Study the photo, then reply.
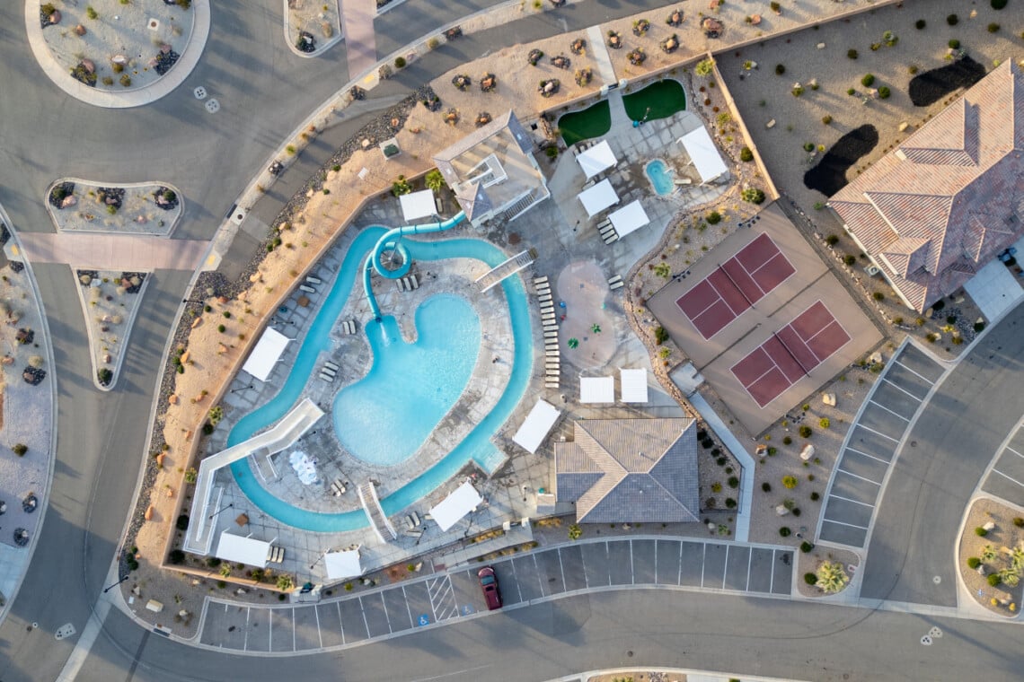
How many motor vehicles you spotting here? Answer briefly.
1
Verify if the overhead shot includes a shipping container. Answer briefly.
No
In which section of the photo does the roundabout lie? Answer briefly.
top left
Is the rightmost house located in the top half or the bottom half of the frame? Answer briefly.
top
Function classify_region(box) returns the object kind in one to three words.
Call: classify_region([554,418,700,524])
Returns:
building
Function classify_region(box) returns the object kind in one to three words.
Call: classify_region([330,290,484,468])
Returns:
swimming pool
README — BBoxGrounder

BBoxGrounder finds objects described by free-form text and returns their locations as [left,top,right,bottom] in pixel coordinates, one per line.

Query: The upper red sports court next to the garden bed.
[676,231,797,341]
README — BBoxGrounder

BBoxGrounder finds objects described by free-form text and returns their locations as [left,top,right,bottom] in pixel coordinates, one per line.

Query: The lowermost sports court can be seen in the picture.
[730,299,852,409]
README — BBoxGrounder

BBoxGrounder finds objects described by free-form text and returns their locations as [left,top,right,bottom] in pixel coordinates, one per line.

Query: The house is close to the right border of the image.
[826,59,1024,314]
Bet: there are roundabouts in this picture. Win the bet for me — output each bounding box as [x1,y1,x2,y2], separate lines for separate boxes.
[38,0,195,93]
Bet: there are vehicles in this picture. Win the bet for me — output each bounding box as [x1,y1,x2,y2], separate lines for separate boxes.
[475,567,499,616]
